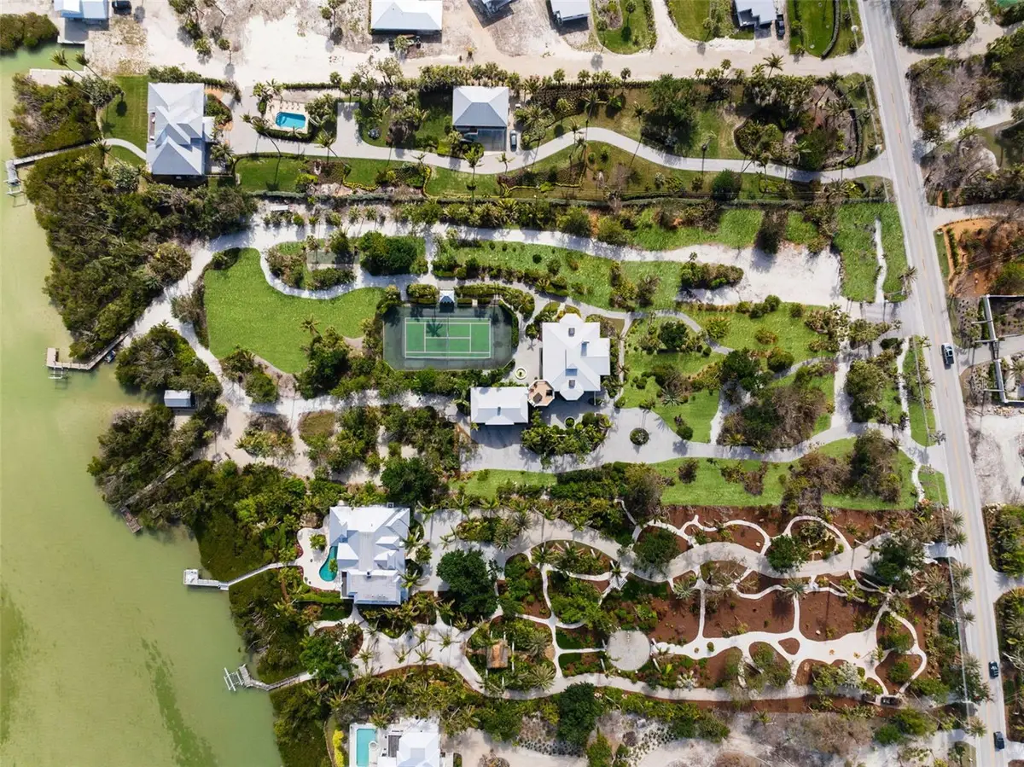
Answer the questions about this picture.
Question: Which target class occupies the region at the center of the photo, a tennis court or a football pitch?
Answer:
tennis court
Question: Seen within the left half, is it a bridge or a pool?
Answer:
pool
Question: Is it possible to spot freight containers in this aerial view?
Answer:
No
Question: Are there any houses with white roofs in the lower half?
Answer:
Yes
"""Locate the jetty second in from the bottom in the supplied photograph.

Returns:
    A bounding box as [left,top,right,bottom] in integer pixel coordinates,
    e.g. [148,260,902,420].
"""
[182,562,276,591]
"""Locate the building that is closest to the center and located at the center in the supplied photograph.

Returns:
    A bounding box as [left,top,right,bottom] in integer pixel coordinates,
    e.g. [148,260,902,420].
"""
[470,387,529,425]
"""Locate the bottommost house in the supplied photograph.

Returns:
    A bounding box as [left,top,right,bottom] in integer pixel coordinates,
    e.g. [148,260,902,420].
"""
[378,729,442,767]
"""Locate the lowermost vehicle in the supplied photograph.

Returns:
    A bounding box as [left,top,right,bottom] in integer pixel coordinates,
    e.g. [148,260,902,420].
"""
[995,731,1007,752]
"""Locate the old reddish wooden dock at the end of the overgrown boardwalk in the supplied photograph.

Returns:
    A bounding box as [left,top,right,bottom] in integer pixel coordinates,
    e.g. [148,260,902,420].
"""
[118,451,199,533]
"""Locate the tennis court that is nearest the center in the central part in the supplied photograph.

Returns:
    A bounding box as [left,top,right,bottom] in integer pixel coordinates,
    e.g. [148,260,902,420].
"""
[381,304,518,370]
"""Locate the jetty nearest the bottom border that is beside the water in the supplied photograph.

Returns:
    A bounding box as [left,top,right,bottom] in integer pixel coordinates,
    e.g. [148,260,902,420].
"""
[238,665,312,692]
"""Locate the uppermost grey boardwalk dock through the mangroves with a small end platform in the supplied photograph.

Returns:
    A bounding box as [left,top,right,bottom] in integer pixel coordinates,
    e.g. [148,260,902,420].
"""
[4,140,97,182]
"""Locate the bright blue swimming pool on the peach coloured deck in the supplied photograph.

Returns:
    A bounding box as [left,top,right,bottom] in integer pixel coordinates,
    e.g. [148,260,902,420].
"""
[274,110,307,129]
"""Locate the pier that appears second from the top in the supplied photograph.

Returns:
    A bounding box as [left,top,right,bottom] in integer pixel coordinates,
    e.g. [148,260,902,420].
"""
[45,333,129,371]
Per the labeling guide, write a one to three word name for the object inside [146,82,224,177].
house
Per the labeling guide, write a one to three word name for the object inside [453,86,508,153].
house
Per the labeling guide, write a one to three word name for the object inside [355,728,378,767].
swimming pool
